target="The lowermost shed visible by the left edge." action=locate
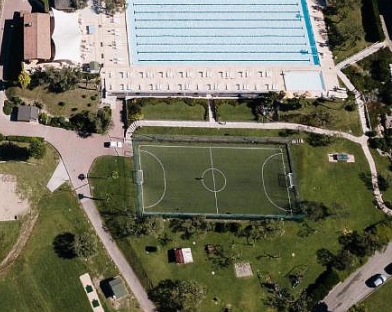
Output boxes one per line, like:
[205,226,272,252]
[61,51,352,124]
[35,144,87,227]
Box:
[14,105,40,123]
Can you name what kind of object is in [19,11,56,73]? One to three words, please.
building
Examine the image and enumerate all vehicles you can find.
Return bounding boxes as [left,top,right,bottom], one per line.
[370,272,390,289]
[108,142,119,149]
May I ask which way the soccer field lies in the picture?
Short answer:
from side to side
